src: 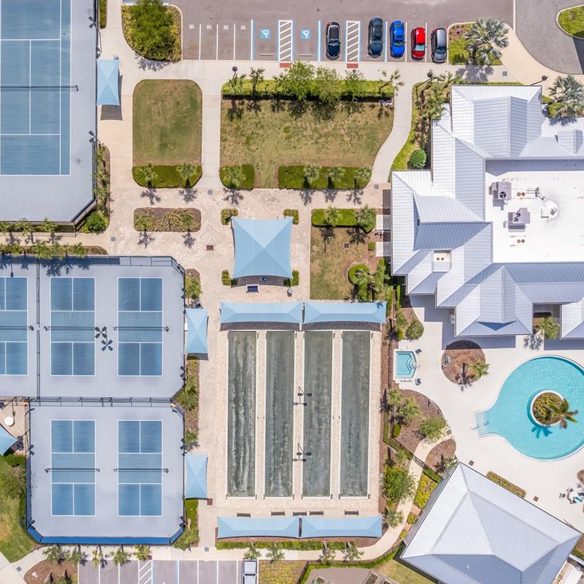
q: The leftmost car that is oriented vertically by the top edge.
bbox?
[325,21,342,60]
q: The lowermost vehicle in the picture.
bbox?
[241,560,257,584]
